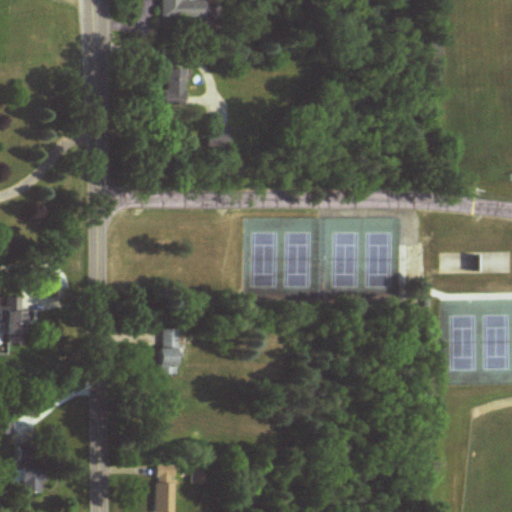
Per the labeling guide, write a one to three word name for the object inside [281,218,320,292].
tennis court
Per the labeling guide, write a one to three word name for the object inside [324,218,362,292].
tennis court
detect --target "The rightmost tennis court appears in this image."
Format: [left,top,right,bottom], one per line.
[479,301,512,385]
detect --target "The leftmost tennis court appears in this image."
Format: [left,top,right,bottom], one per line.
[244,218,281,292]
